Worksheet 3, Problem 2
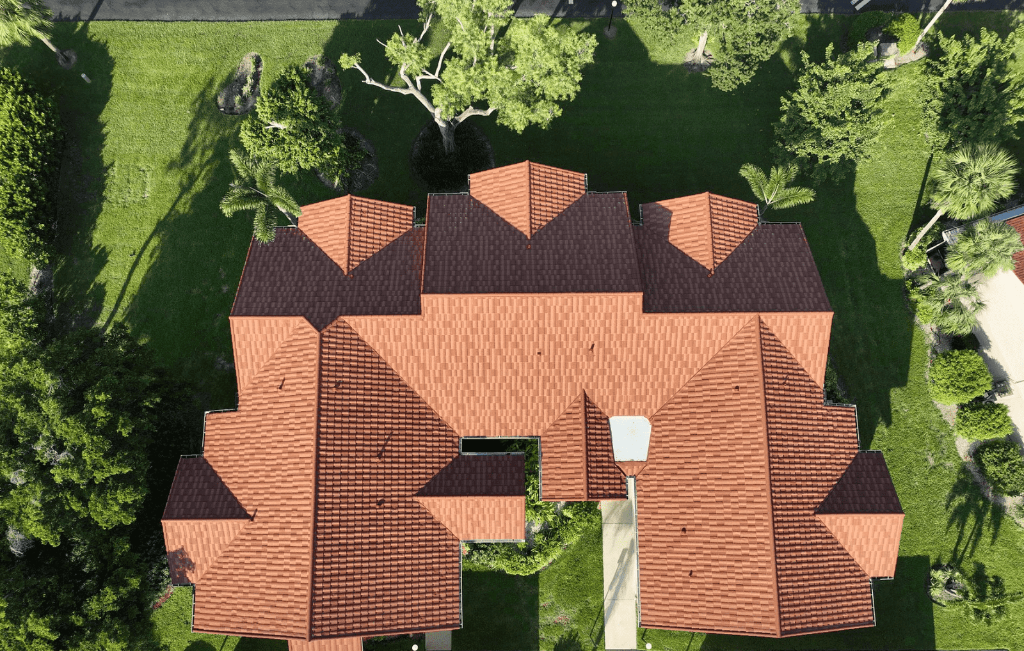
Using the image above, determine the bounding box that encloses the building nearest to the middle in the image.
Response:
[161,160,906,651]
